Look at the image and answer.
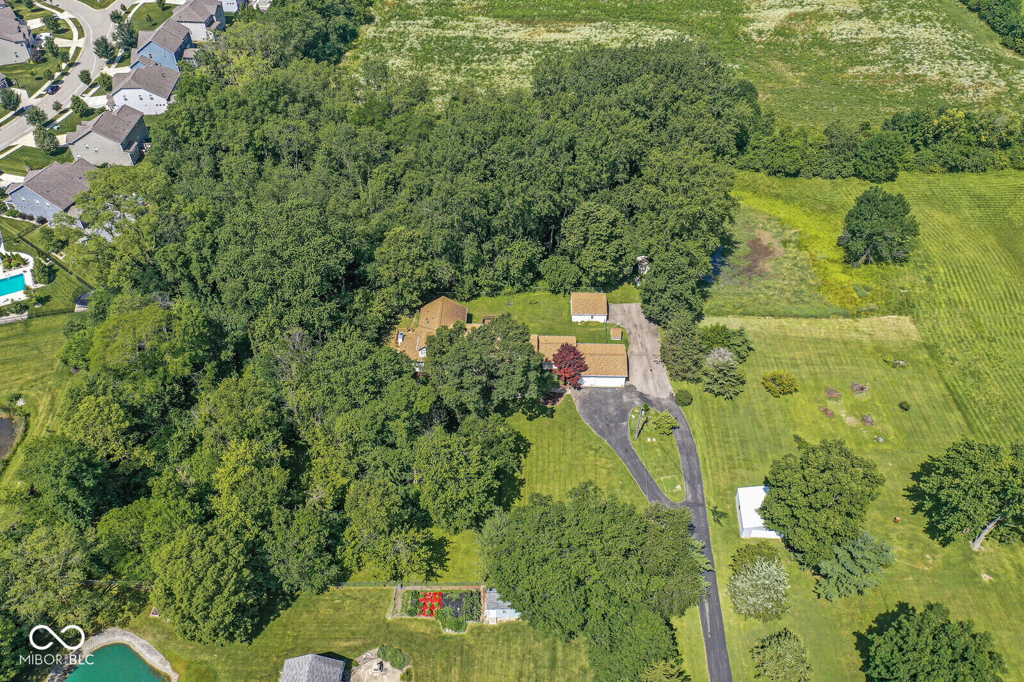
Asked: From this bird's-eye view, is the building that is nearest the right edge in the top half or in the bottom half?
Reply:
bottom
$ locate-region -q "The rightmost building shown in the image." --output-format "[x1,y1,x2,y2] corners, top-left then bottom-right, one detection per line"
[728,484,786,538]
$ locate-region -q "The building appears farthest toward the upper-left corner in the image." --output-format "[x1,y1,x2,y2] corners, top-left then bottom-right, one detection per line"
[0,2,44,66]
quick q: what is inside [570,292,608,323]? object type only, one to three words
building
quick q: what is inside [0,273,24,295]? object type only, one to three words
swimming pool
